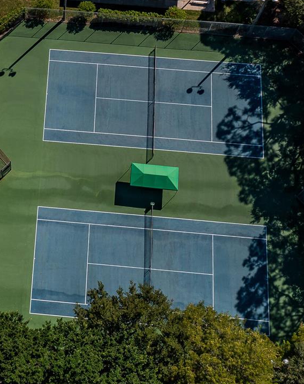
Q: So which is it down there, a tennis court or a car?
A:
tennis court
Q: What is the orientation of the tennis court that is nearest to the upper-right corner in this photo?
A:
from side to side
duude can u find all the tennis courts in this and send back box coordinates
[31,206,269,329]
[43,49,263,158]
